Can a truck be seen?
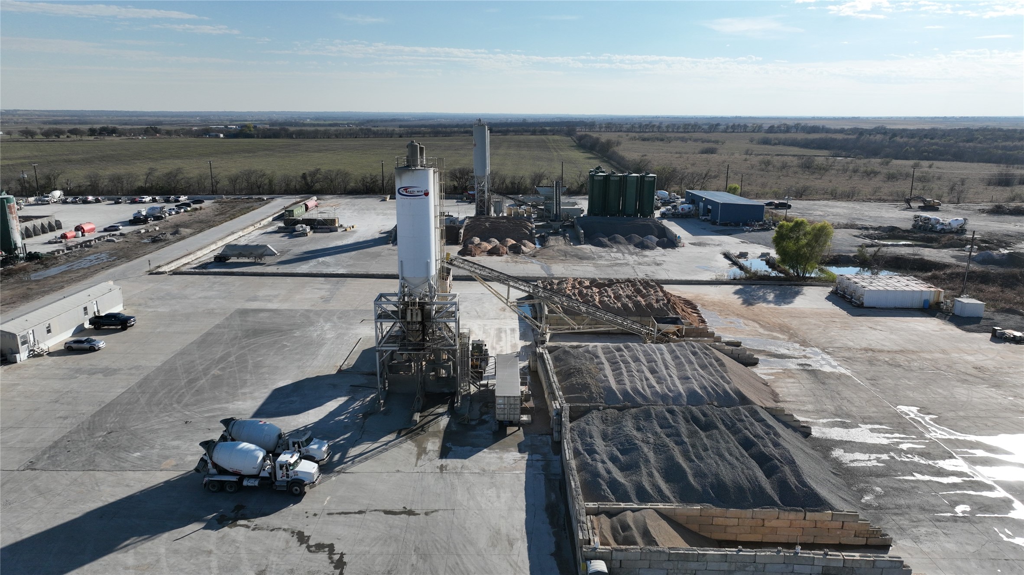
Yes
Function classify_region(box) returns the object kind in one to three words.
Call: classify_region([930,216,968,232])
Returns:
vehicle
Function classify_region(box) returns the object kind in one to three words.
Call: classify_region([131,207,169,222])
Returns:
vehicle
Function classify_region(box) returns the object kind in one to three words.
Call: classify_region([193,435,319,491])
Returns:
truck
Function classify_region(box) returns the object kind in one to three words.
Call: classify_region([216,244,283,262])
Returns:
trailer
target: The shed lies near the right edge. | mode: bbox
[947,292,994,317]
